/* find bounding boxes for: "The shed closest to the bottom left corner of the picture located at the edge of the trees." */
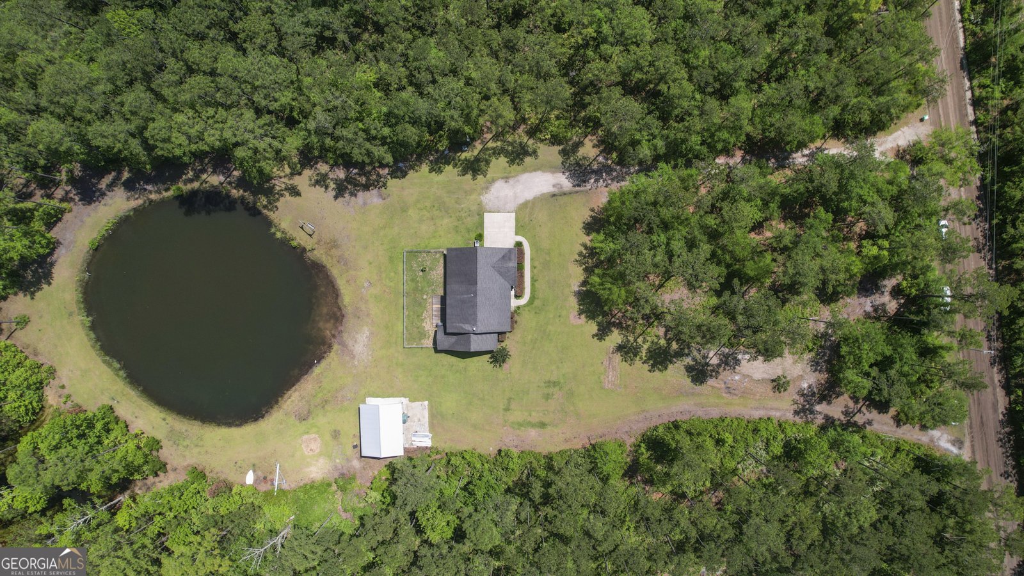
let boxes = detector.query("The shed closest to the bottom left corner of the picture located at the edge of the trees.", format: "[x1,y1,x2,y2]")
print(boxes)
[360,403,404,457]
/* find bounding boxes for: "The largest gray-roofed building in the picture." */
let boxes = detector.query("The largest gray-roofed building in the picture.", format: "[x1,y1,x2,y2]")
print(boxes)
[437,246,517,351]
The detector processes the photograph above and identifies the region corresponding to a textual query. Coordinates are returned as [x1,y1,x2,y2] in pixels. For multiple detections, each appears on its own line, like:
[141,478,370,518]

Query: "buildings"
[437,246,517,351]
[360,403,404,457]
